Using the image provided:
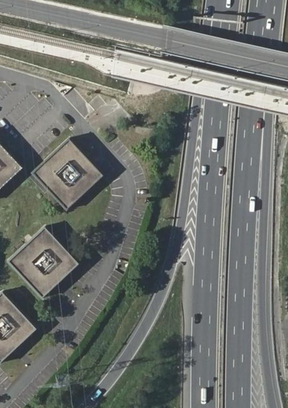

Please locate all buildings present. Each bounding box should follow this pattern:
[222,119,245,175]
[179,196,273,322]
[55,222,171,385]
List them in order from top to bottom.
[32,138,106,211]
[0,142,24,190]
[7,226,82,298]
[0,292,39,364]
